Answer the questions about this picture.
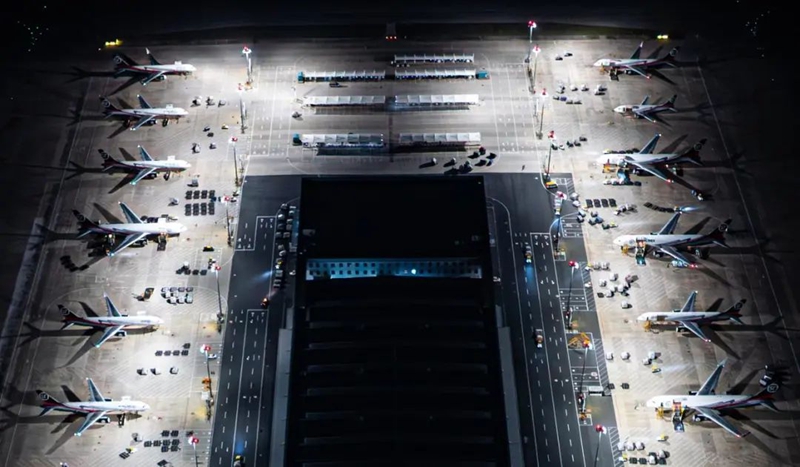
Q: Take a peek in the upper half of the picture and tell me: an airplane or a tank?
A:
airplane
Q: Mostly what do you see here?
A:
paved ground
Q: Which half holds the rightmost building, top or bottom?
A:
bottom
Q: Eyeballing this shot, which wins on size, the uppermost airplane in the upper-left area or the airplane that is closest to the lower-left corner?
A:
the airplane that is closest to the lower-left corner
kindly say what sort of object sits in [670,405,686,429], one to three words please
work vehicle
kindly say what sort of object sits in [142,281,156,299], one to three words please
work vehicle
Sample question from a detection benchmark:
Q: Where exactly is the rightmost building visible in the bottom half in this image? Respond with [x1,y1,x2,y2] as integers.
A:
[269,174,524,467]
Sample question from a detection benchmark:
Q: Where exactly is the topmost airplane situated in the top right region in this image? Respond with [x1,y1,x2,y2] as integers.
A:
[594,44,680,81]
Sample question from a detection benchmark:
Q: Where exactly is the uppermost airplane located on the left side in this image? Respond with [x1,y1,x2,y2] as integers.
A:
[112,48,195,84]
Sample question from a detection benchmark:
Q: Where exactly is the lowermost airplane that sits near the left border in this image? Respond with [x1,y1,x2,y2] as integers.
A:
[34,378,149,436]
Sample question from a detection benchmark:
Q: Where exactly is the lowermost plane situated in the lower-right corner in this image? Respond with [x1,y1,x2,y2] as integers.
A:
[647,358,788,440]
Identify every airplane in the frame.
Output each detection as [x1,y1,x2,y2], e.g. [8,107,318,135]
[647,358,788,440]
[99,94,188,130]
[614,212,735,269]
[597,134,710,184]
[34,378,149,436]
[594,44,680,81]
[112,48,195,84]
[96,144,191,184]
[72,201,187,254]
[614,96,680,122]
[55,295,163,346]
[637,290,748,342]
